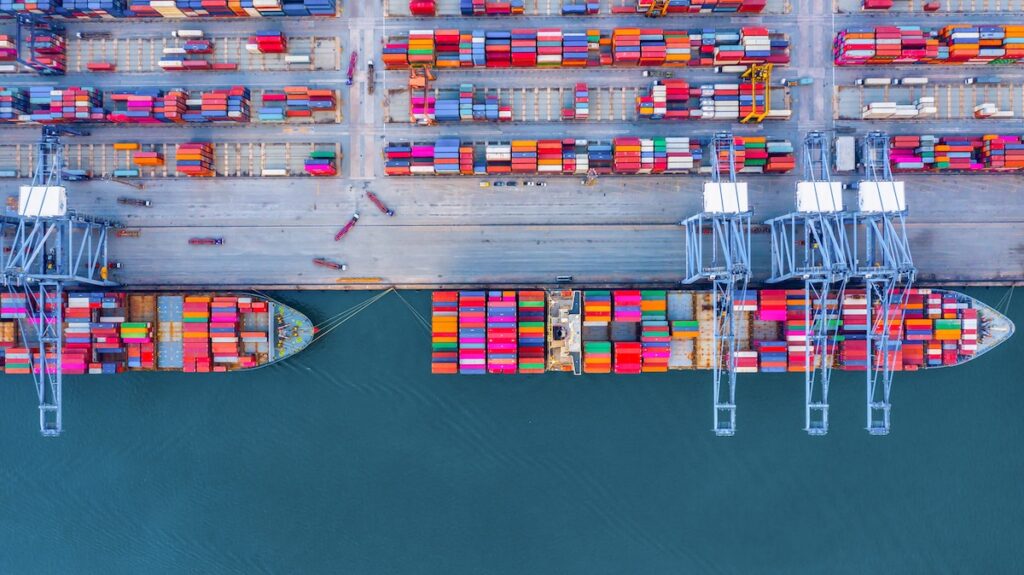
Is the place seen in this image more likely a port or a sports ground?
port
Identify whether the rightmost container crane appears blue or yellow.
blue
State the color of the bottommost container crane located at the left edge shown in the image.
blue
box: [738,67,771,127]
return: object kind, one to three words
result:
container crane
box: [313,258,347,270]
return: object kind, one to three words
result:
vehicle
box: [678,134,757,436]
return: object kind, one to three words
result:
container crane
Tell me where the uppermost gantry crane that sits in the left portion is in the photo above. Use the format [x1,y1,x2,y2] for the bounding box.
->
[17,13,64,74]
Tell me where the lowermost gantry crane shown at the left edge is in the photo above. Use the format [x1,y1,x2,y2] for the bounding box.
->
[0,134,125,436]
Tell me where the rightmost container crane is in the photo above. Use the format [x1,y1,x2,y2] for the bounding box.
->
[814,134,923,436]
